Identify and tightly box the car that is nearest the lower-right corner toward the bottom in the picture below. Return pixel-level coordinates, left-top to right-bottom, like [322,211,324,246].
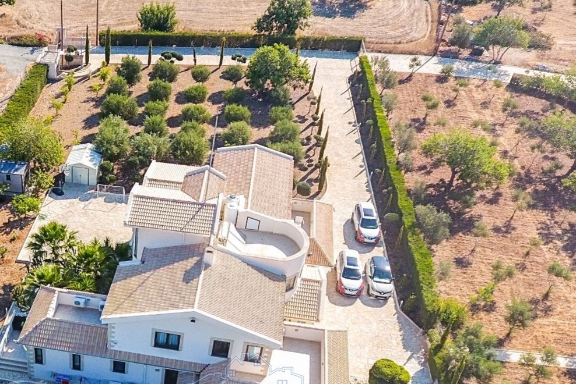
[361,259,396,302]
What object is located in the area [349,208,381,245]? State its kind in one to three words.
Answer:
car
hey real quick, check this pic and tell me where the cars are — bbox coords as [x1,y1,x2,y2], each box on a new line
[349,208,381,245]
[330,254,365,298]
[361,259,396,302]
